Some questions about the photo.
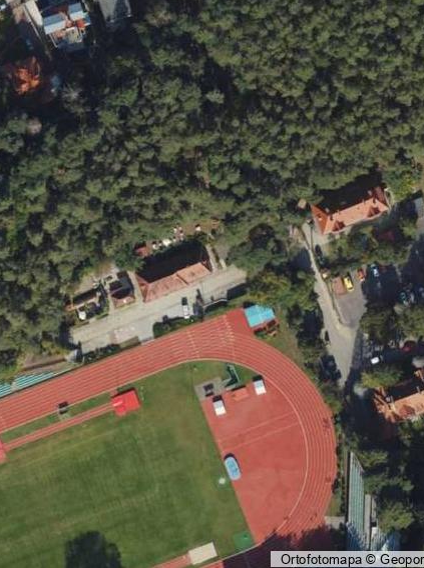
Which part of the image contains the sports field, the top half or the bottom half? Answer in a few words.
bottom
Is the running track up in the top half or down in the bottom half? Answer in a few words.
bottom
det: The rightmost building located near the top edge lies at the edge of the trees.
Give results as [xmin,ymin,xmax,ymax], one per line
[93,0,131,22]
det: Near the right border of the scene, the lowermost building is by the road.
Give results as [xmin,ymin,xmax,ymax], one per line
[369,362,424,425]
